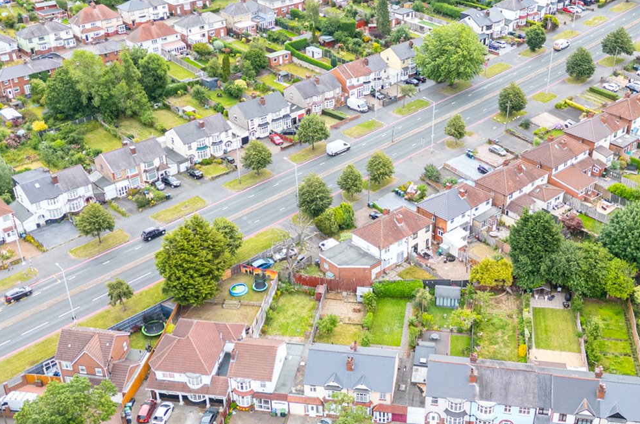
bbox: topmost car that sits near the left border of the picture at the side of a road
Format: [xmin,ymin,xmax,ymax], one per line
[1,286,34,304]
